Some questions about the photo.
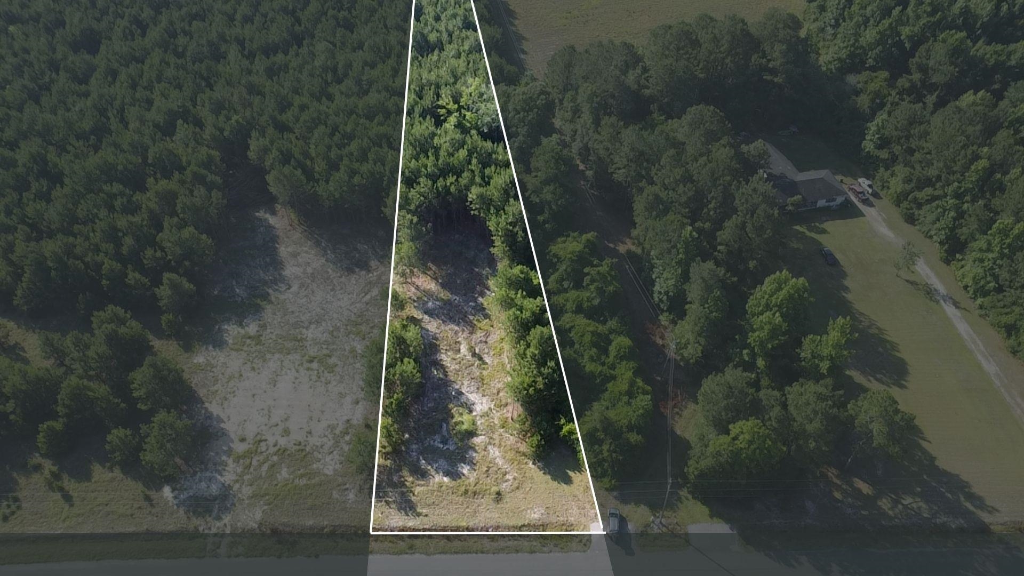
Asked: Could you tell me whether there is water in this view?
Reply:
No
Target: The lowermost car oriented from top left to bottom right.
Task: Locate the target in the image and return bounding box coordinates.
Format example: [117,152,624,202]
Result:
[818,249,839,264]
